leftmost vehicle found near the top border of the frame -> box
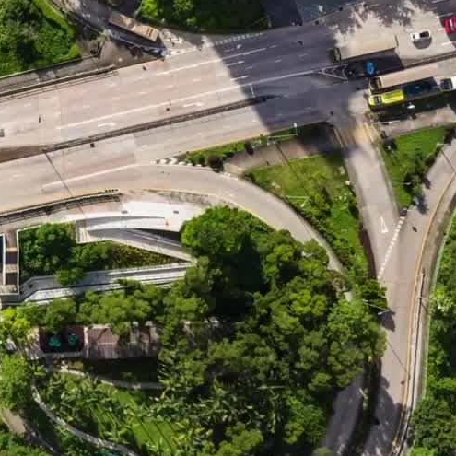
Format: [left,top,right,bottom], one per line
[108,10,160,41]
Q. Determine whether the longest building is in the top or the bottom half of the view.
bottom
